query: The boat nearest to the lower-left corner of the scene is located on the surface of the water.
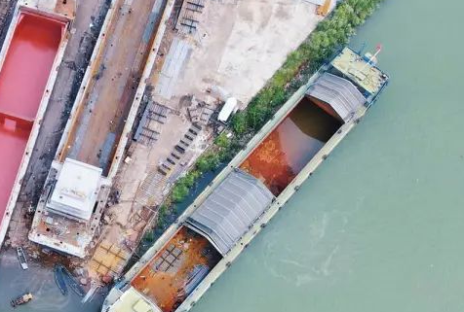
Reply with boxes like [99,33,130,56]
[6,292,36,310]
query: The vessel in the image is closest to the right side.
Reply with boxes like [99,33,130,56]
[104,36,396,312]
